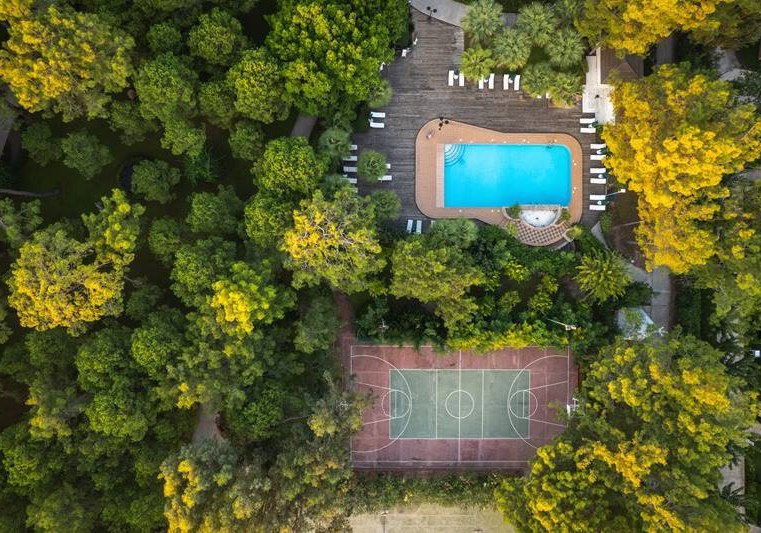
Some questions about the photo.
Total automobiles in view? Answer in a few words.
none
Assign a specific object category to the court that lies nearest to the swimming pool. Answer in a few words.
basketball court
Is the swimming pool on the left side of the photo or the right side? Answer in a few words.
right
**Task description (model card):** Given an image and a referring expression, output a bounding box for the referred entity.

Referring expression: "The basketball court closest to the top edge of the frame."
[334,343,578,474]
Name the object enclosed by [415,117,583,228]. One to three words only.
swimming pool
